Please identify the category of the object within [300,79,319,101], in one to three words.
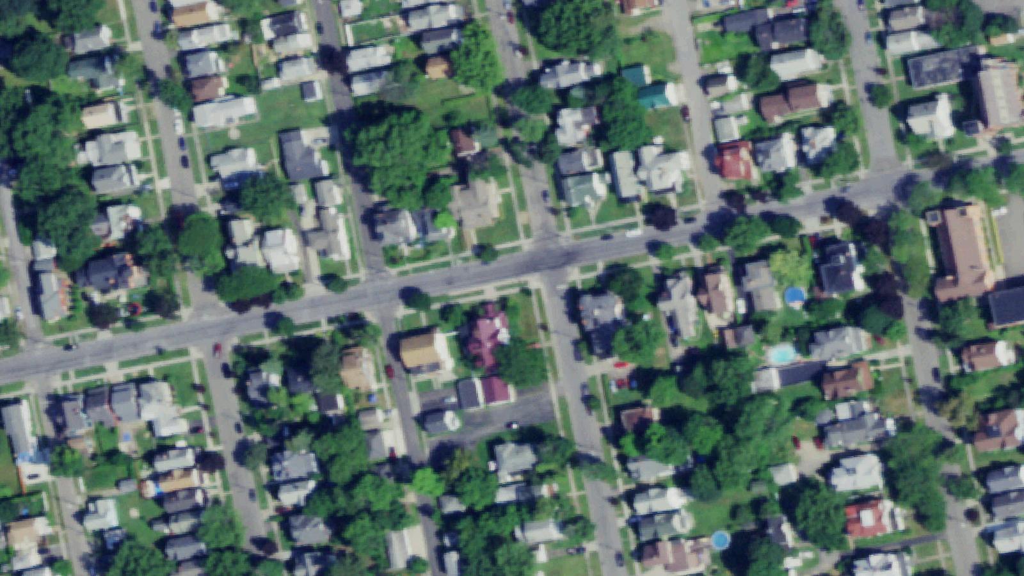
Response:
shed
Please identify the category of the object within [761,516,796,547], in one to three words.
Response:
house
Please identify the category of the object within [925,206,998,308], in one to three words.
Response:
building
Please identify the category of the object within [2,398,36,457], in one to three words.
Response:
house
